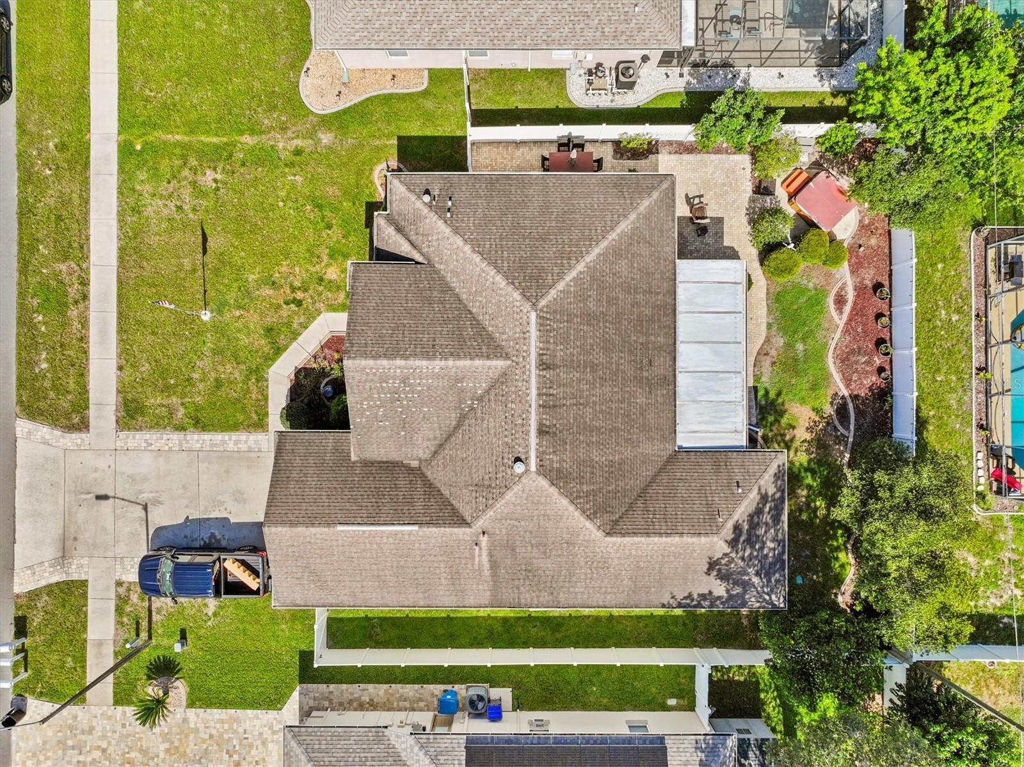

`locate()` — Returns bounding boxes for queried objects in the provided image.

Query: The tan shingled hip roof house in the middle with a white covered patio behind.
[261,171,788,610]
